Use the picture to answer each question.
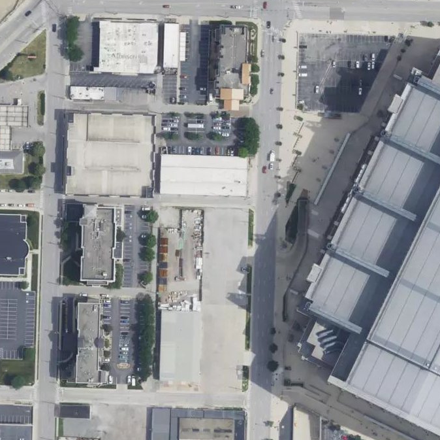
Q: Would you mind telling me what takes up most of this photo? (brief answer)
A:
paved ground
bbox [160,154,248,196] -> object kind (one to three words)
building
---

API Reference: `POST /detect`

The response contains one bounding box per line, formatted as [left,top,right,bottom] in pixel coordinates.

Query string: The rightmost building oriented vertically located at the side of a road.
[208,25,250,110]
